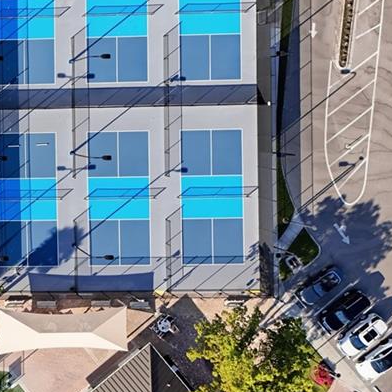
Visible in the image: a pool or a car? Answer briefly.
car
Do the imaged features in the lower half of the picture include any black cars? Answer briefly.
Yes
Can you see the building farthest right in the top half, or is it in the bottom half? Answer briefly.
bottom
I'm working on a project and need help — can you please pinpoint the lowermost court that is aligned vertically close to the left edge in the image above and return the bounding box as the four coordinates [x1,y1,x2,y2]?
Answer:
[0,132,64,267]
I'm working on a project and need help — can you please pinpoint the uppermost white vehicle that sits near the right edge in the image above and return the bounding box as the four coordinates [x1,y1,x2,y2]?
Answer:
[337,314,388,357]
